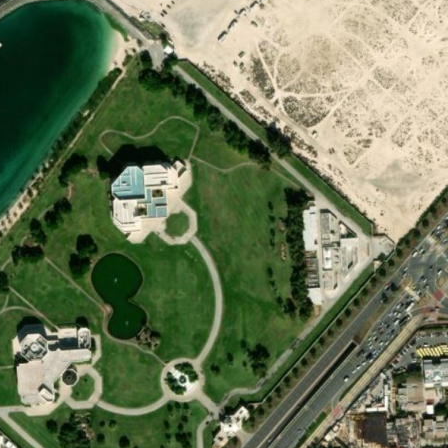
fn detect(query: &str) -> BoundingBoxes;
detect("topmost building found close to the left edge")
[13,326,91,404]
